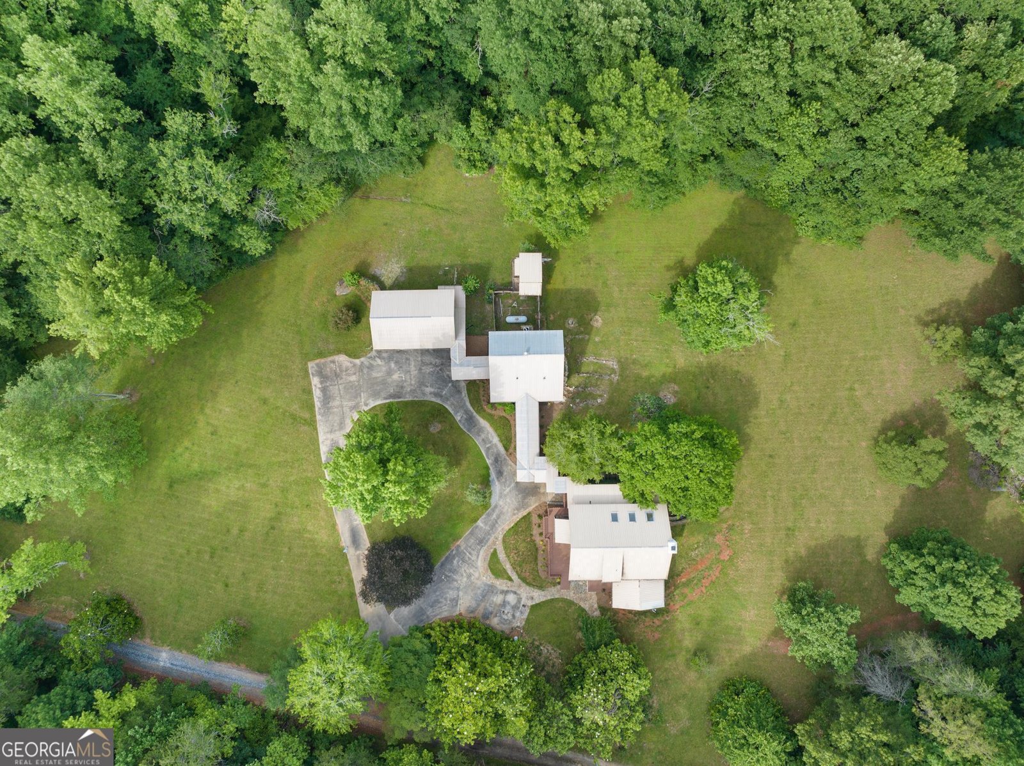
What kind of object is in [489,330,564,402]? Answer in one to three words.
house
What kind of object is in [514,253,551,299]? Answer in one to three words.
shed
